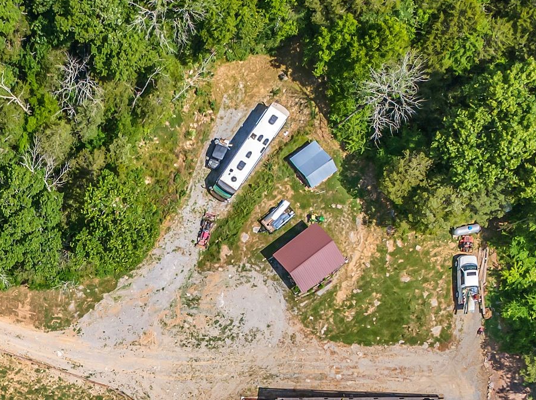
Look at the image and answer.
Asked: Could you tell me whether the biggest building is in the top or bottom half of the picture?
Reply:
bottom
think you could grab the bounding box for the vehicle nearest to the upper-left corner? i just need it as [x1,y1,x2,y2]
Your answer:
[203,140,230,171]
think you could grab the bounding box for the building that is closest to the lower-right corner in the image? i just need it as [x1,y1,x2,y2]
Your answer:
[268,223,345,307]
